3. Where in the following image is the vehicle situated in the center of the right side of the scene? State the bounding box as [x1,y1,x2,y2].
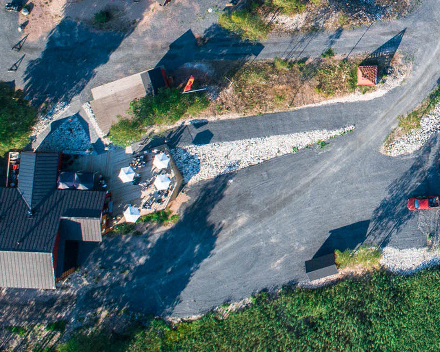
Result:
[406,196,439,211]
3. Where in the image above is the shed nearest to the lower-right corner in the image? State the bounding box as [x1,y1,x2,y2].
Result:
[304,252,340,280]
